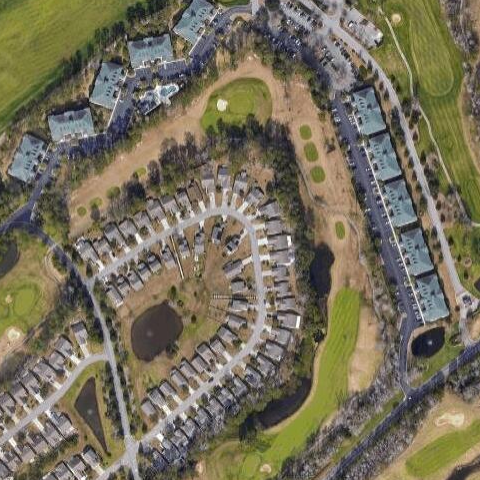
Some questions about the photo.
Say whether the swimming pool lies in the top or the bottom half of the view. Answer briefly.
top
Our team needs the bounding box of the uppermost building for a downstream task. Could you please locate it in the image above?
[174,0,220,44]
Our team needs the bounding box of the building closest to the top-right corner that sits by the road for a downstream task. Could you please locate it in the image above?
[351,86,387,135]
